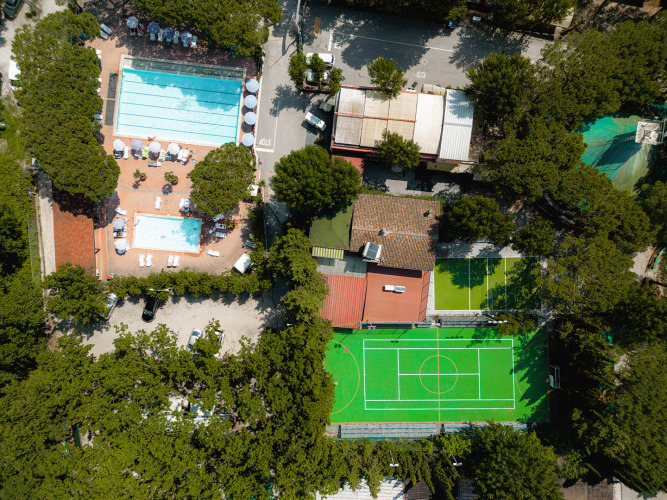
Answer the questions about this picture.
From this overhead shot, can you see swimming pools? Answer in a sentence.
Yes, you can see a swimming pool in this photo.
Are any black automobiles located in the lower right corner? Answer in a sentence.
No, I can find no black automobile in the lower right corner.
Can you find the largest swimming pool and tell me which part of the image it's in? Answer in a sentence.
The largest swimming pool is in the top left part of the image.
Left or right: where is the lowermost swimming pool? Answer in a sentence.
You can find the lowermost swimming pool on the left side of the picture.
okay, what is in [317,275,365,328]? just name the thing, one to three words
shed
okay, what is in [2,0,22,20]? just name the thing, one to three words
car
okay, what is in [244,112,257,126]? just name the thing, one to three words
umbrella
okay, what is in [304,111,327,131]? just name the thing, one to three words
vehicle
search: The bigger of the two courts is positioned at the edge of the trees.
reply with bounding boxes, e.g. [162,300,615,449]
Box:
[321,327,550,423]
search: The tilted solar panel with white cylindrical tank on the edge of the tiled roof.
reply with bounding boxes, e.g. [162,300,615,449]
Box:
[362,241,384,262]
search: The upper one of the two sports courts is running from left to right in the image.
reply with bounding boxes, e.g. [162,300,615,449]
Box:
[435,258,541,310]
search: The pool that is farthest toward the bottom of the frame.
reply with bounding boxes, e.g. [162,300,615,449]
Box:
[129,210,205,256]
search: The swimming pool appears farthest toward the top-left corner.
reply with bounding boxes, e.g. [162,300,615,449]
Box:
[111,53,248,150]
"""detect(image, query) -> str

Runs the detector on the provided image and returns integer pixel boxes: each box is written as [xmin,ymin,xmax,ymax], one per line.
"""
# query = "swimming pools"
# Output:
[111,53,248,150]
[129,210,205,256]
